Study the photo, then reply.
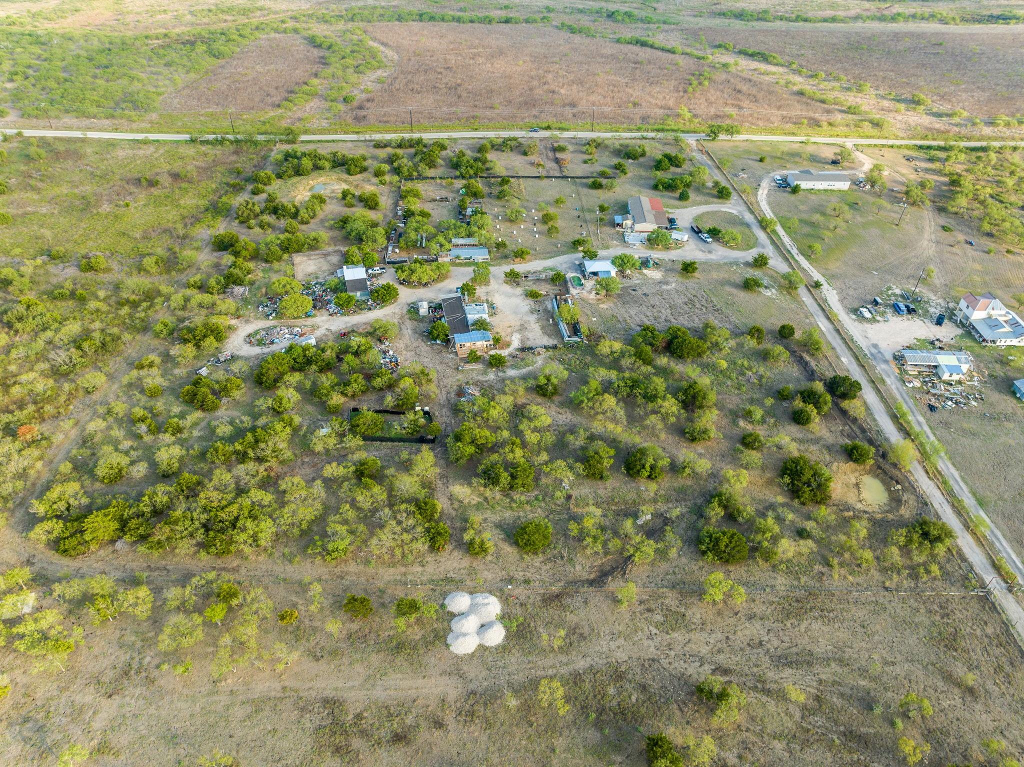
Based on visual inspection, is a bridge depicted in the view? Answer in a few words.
No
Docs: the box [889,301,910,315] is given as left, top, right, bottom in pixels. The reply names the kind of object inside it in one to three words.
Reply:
vehicle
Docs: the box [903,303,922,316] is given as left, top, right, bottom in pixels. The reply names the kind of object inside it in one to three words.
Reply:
vehicle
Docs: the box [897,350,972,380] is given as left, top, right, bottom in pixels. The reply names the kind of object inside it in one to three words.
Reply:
shed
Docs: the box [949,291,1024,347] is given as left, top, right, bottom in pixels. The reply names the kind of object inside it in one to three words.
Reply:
house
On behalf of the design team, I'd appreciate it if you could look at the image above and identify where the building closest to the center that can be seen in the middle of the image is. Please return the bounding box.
[448,334,491,364]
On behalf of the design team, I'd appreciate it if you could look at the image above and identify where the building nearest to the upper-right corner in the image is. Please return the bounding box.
[786,165,851,190]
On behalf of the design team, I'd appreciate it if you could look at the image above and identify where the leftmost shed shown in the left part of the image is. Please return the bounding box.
[337,263,368,302]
